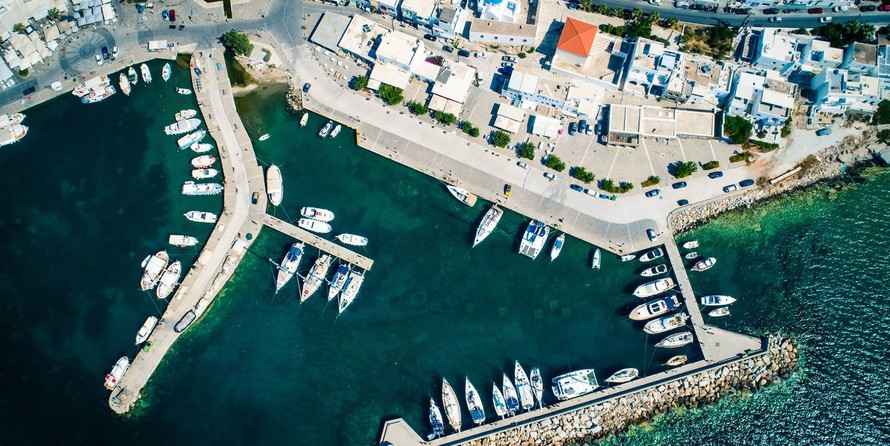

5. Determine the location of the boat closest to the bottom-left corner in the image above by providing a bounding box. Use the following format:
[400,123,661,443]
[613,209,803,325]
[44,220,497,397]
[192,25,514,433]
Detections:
[103,357,131,392]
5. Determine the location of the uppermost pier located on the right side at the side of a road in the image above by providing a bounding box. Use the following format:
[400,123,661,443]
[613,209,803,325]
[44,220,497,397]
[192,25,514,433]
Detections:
[662,236,766,369]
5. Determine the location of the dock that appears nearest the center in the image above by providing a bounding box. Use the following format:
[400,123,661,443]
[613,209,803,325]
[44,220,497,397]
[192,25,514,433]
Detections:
[263,213,373,270]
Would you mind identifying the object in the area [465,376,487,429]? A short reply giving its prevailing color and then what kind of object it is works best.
white boat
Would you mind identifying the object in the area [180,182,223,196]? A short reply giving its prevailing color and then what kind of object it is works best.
white boat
